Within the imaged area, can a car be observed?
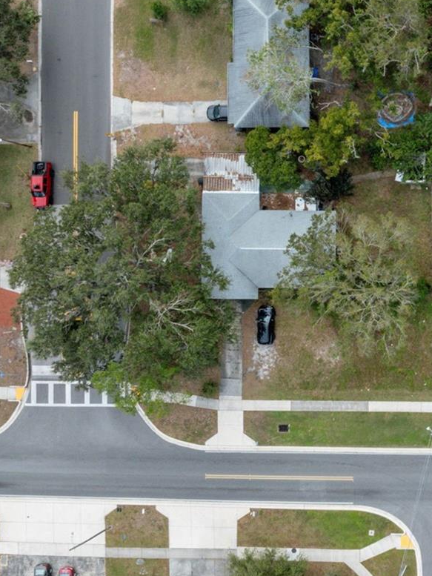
Yes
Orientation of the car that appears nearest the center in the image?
up and down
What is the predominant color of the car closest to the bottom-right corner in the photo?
black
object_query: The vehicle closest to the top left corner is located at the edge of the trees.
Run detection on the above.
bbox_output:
[29,160,56,210]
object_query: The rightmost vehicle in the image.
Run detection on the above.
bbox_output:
[255,304,276,345]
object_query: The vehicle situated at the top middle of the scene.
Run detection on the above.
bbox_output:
[202,102,228,122]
